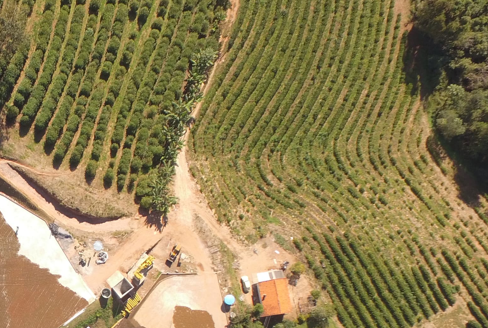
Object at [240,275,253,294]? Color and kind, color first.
white vehicle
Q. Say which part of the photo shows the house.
bottom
